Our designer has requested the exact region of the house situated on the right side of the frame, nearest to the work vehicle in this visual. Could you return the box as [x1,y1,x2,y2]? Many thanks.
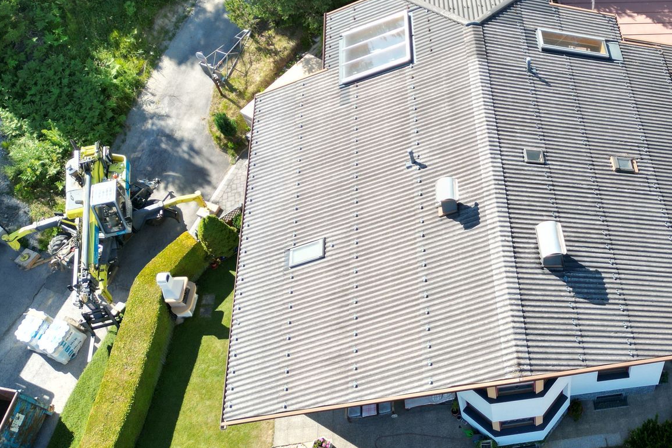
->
[215,0,672,448]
